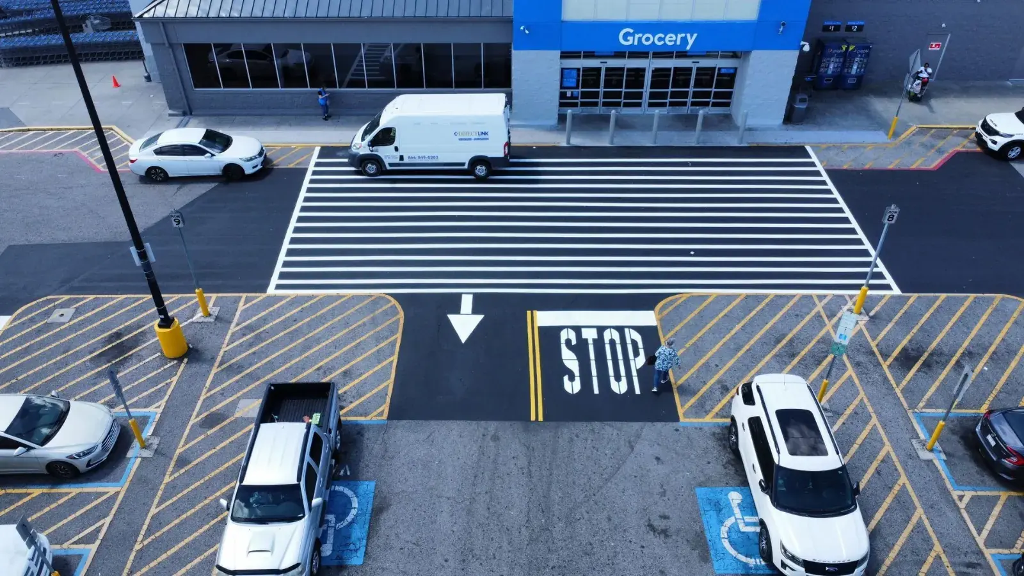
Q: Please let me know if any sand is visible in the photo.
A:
No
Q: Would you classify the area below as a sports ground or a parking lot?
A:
parking lot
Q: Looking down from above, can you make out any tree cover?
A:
No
